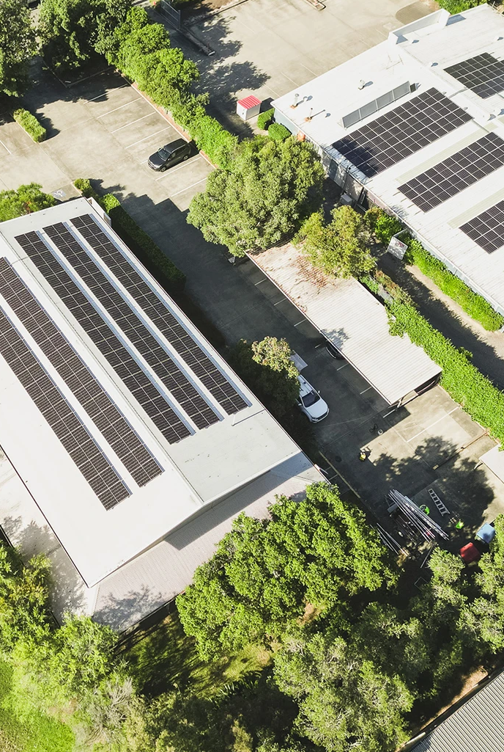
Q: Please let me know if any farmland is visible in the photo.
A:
No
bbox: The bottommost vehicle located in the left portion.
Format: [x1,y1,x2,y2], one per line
[145,135,192,171]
